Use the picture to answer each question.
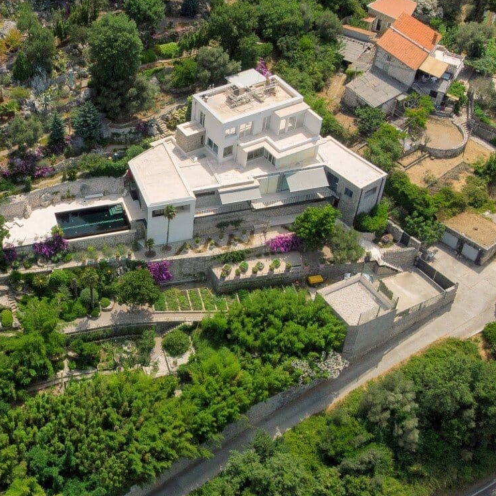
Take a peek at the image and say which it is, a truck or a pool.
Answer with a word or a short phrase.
pool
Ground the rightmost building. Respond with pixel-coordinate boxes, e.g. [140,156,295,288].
[440,211,496,264]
